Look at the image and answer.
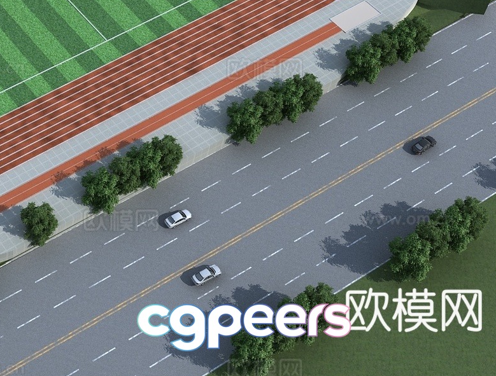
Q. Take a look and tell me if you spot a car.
Yes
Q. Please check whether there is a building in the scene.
No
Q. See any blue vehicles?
No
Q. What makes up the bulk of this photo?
paved ground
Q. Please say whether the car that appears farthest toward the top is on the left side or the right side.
right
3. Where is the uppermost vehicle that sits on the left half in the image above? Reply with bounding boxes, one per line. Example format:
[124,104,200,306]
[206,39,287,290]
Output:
[165,209,196,232]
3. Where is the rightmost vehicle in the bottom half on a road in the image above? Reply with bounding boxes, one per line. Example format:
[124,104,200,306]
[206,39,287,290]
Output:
[191,265,224,290]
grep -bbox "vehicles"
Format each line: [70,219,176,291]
[191,265,224,290]
[165,209,196,232]
[412,137,441,157]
